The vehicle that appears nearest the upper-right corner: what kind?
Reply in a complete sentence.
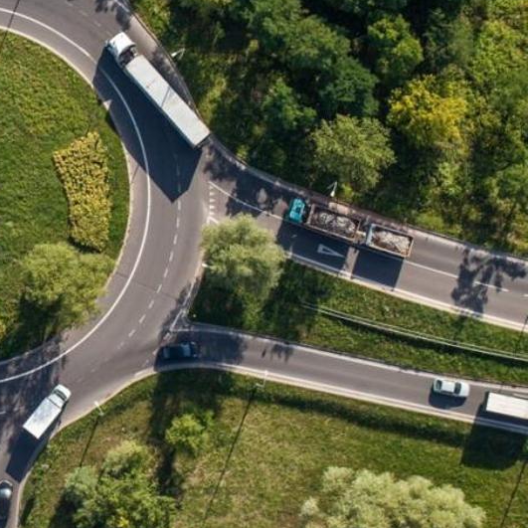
Specifically, the vehicle that appears nearest the upper-right corner is a truck.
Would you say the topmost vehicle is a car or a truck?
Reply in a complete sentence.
I'd say the topmost vehicle is a truck.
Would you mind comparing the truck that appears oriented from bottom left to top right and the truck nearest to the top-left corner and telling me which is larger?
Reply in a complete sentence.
Compared with the truck that appears oriented from bottom left to top right, the truck nearest to the top-left corner is the larger one.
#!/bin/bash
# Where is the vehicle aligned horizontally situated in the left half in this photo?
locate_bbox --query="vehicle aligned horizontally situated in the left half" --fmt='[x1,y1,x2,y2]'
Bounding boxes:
[159,344,196,360]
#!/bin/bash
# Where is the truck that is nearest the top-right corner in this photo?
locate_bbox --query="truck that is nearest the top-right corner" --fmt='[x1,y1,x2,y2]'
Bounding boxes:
[289,197,414,256]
